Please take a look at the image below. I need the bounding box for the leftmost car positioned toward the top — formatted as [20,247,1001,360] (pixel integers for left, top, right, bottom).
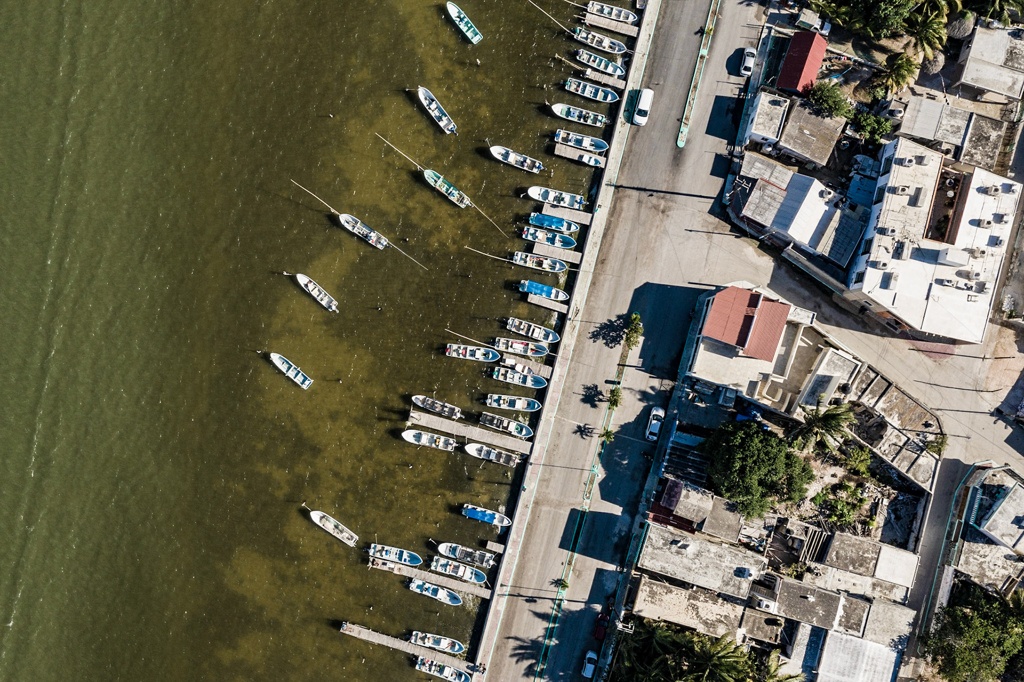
[633,88,653,126]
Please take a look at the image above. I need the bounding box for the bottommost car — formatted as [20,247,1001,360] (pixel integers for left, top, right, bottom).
[579,648,596,680]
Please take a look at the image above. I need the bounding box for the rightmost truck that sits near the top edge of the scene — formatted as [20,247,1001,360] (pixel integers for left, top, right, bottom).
[796,8,831,38]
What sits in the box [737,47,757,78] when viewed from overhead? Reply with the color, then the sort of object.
white car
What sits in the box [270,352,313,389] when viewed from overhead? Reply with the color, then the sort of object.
white boat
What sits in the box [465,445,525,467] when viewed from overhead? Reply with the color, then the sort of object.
white boat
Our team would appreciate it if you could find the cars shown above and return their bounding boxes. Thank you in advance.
[633,88,653,126]
[644,406,664,442]
[579,648,596,680]
[591,611,609,642]
[737,47,757,78]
